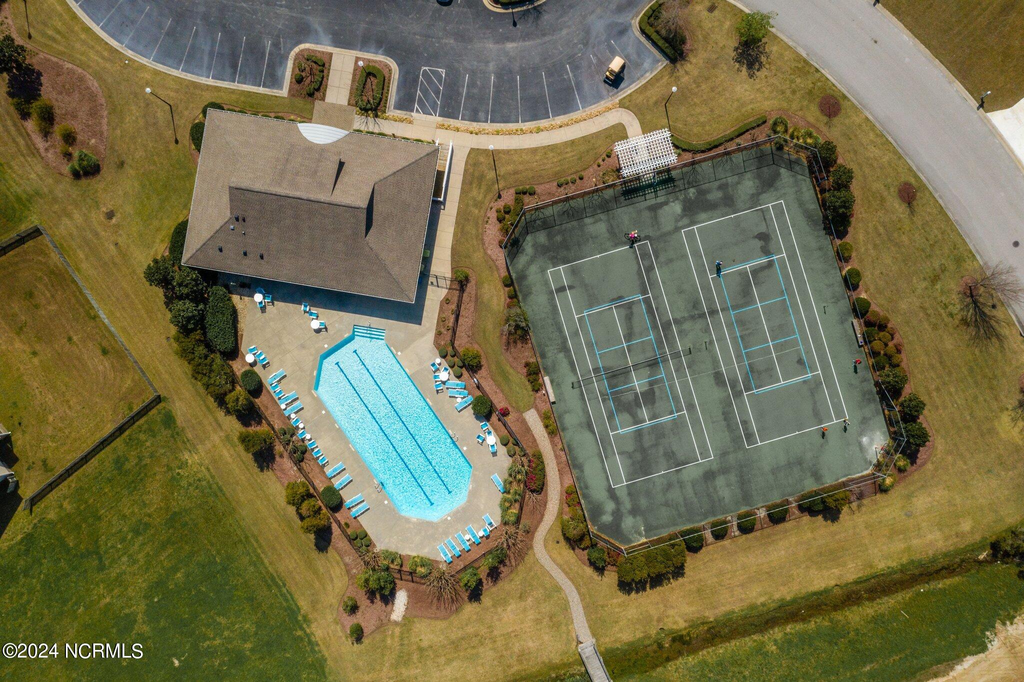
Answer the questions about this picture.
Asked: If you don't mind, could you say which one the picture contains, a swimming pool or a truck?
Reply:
swimming pool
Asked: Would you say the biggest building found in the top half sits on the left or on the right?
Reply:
left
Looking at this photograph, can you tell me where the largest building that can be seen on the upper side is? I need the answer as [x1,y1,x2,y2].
[181,108,441,304]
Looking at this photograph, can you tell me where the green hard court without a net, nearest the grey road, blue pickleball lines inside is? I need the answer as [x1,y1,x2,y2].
[682,201,848,448]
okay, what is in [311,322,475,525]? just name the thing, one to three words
swimming pool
